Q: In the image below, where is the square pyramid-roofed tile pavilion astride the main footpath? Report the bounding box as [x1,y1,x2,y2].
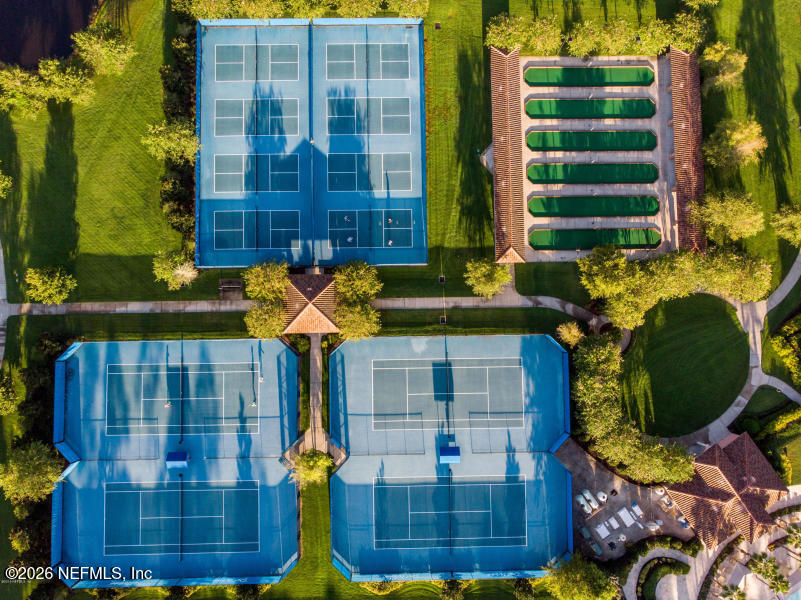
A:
[283,274,339,334]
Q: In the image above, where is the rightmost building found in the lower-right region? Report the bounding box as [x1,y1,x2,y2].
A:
[666,431,789,550]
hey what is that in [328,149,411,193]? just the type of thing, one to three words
sports court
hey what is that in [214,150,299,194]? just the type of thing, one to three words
sports court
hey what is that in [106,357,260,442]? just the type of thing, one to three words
tennis court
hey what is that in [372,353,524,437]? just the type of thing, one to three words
tennis court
